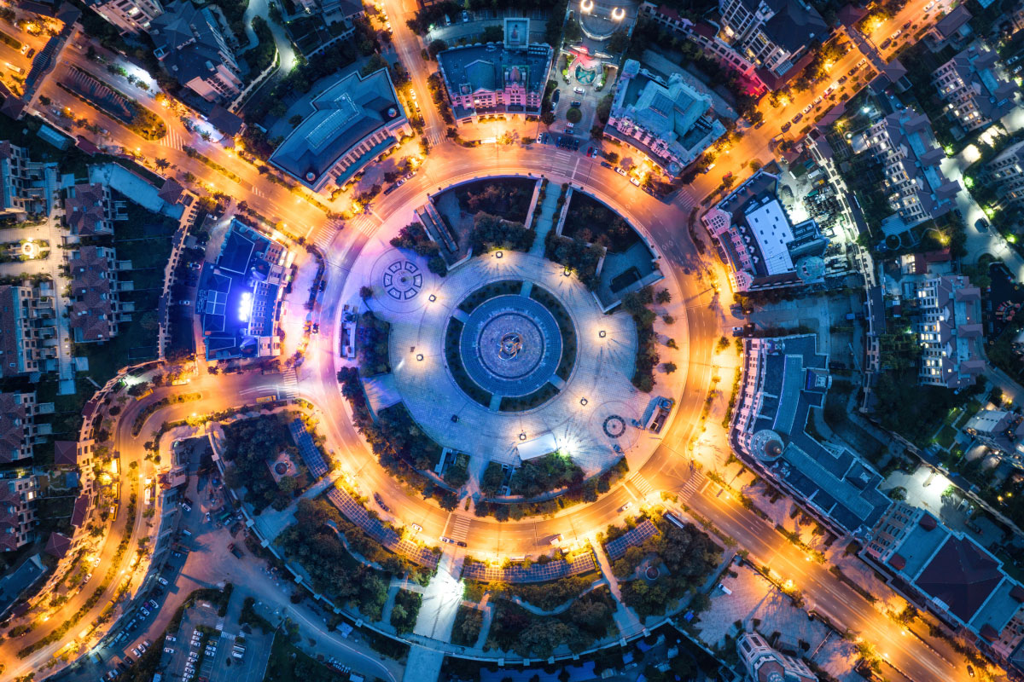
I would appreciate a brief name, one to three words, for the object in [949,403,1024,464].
building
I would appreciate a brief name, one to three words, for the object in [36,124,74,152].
greenhouse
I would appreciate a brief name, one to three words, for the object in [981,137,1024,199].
building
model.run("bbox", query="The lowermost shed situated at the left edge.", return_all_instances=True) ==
[0,554,54,620]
